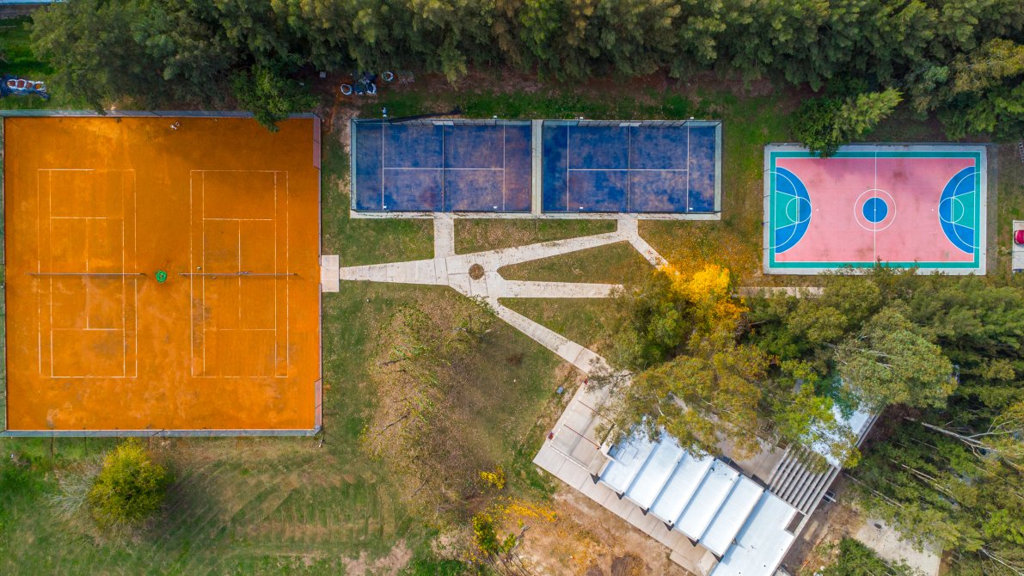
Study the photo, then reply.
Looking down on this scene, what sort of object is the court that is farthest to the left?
tennis court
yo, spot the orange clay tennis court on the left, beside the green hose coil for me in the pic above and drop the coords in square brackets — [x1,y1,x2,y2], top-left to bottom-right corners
[4,116,163,430]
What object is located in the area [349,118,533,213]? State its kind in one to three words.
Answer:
sports court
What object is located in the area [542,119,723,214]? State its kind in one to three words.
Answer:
sports court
